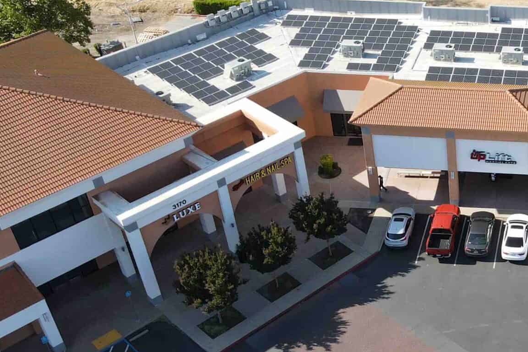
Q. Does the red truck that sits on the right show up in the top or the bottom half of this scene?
bottom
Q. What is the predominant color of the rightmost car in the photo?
white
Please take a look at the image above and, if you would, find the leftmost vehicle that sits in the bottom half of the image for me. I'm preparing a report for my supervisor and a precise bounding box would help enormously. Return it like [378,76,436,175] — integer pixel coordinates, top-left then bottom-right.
[384,206,419,248]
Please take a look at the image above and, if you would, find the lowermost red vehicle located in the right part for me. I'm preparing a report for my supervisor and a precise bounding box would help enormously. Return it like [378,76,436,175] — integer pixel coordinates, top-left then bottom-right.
[427,205,460,258]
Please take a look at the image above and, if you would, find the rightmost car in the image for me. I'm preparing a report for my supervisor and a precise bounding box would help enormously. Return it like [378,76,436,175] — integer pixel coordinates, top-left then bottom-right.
[503,214,528,261]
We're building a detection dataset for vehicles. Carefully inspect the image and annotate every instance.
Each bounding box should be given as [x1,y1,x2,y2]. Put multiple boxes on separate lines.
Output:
[384,206,419,248]
[427,205,460,258]
[503,214,528,261]
[465,211,497,258]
